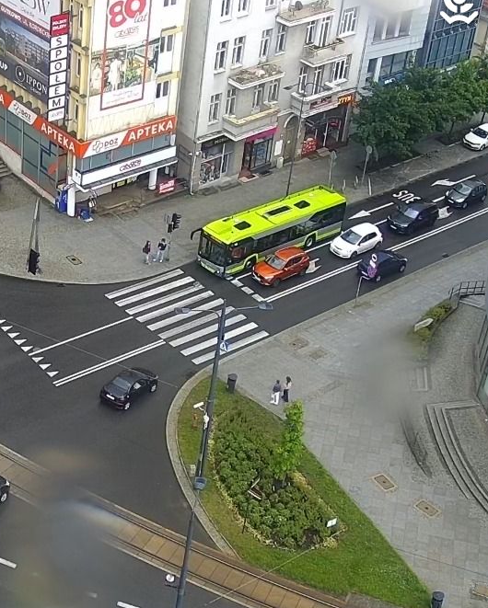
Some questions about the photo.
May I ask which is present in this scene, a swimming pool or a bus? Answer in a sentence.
The image shows a bus.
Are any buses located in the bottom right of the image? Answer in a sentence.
No, no bus is visible in the bottom right of the image.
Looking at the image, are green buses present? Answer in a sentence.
Yes, there's a green bus down there.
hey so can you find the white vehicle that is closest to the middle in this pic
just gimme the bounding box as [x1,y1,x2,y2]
[331,220,388,257]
